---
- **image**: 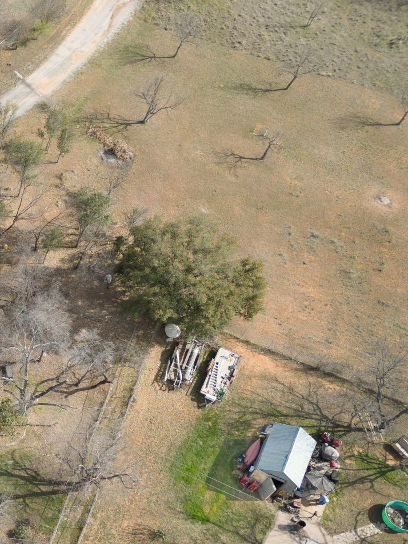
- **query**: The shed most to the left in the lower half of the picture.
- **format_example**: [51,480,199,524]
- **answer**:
[239,424,315,501]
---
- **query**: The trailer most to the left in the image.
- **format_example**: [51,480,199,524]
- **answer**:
[165,342,202,399]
